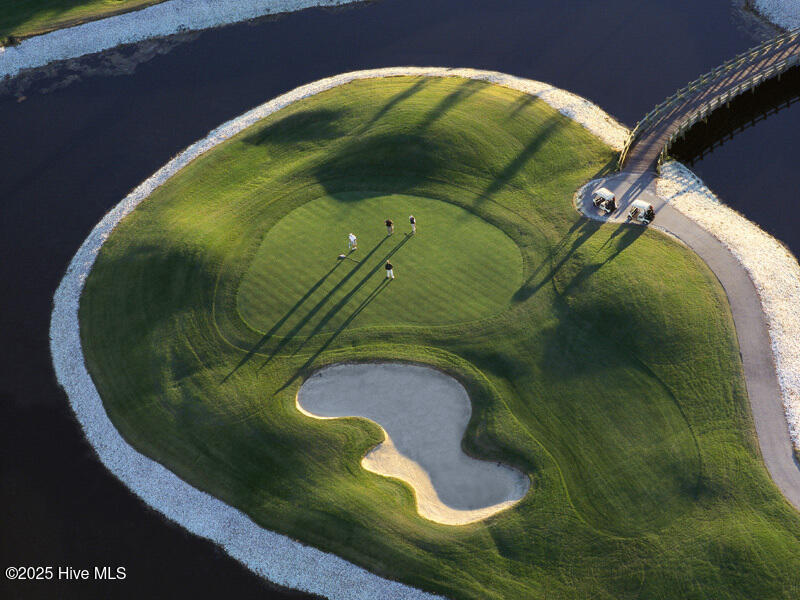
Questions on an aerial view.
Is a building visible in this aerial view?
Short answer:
No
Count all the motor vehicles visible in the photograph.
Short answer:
2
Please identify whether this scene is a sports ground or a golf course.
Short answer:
golf course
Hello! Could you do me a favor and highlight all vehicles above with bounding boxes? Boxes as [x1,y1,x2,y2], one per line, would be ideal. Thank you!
[591,188,617,212]
[627,200,653,224]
